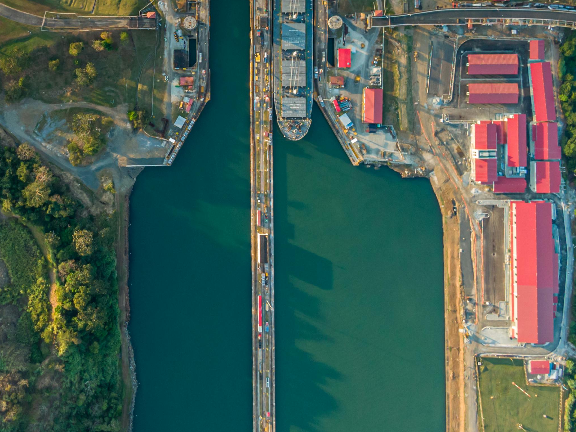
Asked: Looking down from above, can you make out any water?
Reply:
Yes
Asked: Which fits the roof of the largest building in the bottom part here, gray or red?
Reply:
red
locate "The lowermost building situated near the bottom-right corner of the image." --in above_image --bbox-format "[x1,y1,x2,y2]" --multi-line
[528,359,550,374]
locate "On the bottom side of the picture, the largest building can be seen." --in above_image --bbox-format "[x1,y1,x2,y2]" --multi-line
[507,201,553,345]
